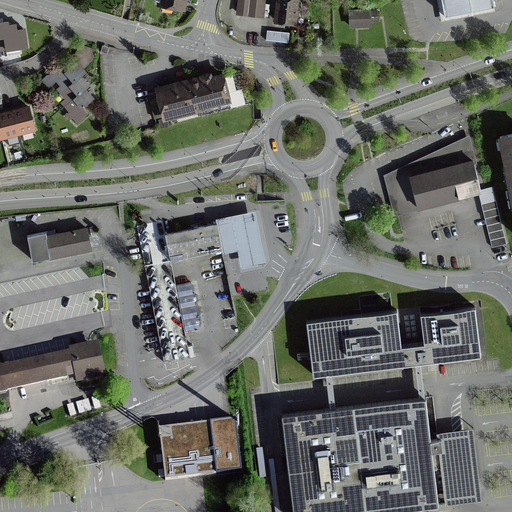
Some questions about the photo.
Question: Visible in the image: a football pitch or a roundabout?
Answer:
roundabout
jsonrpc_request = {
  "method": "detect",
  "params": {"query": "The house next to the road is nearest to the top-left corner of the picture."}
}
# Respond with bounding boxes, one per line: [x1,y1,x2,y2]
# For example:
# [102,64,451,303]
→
[0,18,32,61]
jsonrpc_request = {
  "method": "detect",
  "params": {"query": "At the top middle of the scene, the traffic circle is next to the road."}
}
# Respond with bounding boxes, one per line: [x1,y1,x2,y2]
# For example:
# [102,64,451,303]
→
[262,98,342,179]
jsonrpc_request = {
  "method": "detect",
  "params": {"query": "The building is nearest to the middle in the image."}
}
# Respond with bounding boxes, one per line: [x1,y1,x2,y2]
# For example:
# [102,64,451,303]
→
[216,211,268,271]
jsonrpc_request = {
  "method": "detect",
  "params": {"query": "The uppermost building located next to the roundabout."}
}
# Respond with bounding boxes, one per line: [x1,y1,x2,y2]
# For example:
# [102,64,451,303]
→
[154,71,246,128]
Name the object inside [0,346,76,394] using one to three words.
house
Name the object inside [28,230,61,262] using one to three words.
building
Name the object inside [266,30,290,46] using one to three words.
building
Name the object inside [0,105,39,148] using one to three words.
house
